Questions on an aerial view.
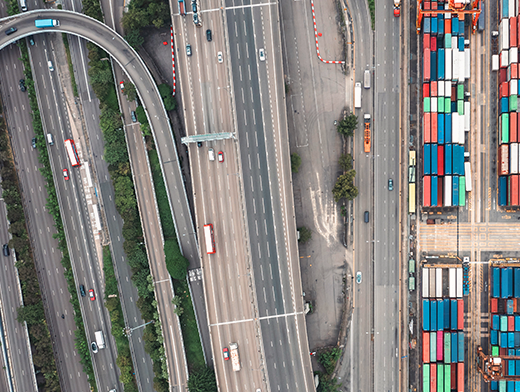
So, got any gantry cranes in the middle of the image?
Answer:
No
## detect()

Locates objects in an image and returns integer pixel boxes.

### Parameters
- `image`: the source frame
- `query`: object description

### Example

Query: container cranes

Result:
[480,343,520,383]
[416,0,482,29]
